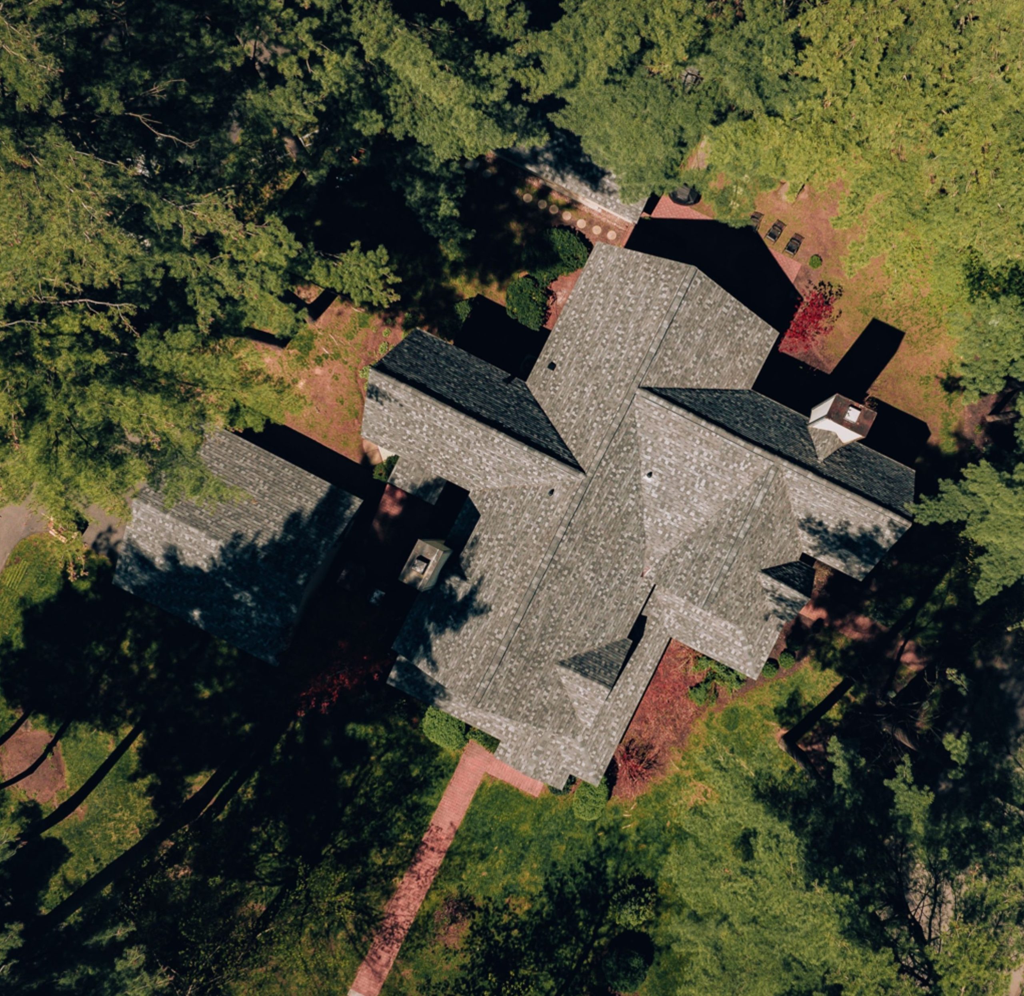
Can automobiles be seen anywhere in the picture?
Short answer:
No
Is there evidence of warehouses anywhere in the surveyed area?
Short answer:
No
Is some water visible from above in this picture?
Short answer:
No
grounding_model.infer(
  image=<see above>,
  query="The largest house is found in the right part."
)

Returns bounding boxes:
[361,244,916,791]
